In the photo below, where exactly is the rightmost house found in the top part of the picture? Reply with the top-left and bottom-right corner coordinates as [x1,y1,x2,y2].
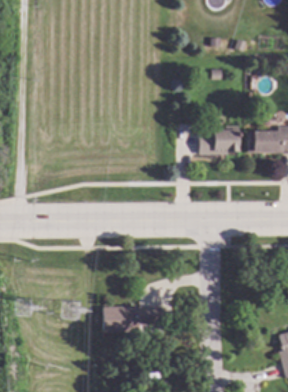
[254,124,288,153]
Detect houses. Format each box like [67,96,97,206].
[100,307,152,335]
[198,127,241,156]
[254,124,288,153]
[278,333,288,380]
